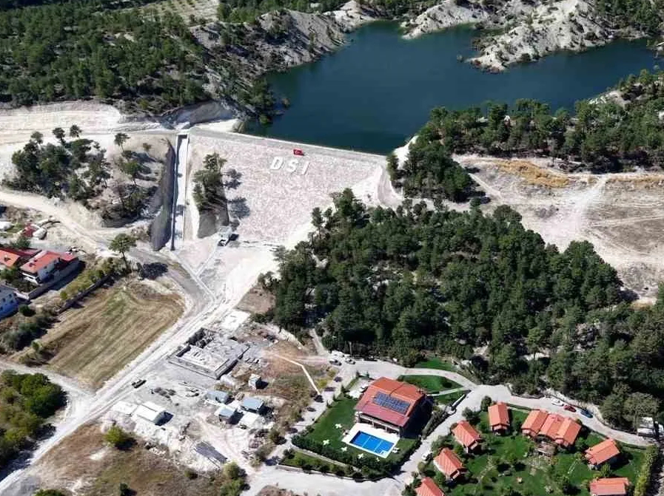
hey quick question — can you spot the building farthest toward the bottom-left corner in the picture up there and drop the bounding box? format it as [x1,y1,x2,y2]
[134,405,169,430]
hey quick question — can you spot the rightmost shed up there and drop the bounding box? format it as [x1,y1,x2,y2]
[637,416,662,443]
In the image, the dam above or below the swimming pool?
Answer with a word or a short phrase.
above it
